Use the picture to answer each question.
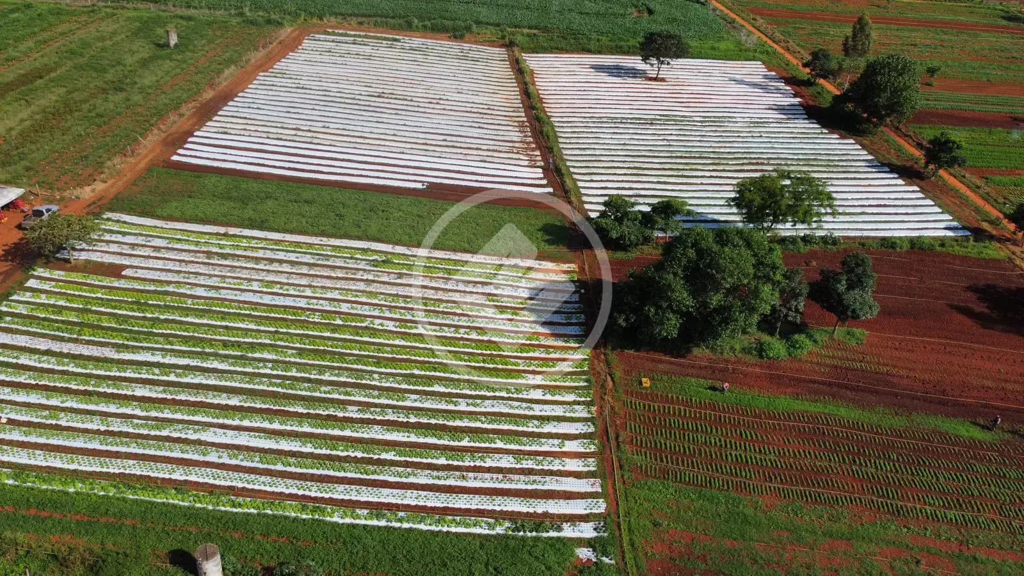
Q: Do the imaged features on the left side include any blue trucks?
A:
No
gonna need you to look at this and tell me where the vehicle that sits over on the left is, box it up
[21,203,61,228]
